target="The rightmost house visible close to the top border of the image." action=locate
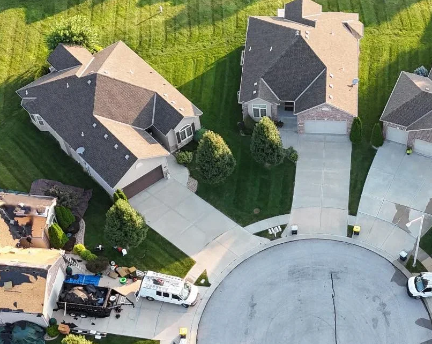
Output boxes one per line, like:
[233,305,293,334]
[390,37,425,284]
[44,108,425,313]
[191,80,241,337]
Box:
[240,0,363,133]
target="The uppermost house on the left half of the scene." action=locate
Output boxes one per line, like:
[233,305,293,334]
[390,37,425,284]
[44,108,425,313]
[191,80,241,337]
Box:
[21,40,204,199]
